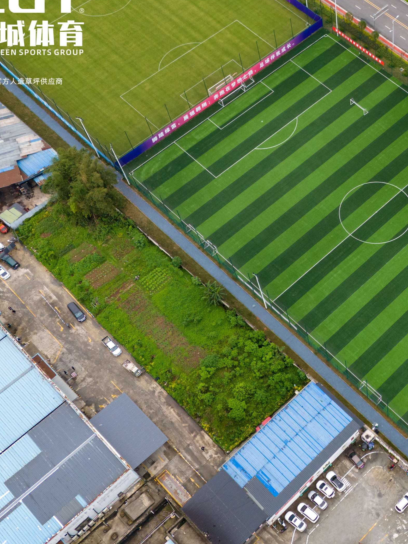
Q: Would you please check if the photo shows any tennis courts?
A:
No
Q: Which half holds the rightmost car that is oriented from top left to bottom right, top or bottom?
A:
bottom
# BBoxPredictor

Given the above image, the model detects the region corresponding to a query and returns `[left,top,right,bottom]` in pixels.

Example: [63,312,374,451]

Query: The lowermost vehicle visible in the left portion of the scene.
[123,358,142,377]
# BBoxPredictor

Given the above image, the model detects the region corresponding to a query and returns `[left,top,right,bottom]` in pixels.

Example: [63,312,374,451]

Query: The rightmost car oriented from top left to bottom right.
[345,448,365,471]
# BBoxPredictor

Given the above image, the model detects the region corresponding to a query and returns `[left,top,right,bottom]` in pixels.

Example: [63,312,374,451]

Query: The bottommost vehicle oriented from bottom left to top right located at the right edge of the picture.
[393,492,408,514]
